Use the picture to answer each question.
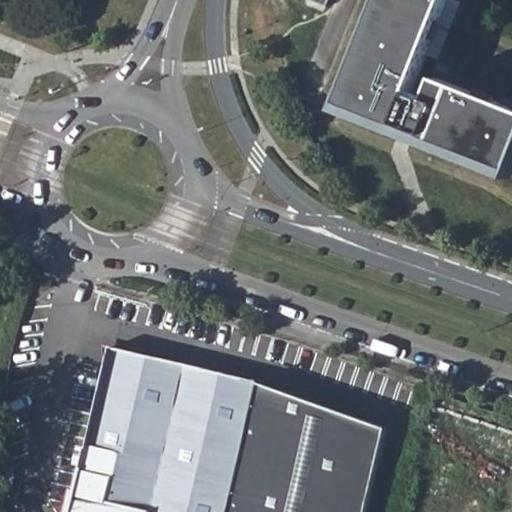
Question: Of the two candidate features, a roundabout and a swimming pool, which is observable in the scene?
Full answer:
This aerial view contains a roundabout.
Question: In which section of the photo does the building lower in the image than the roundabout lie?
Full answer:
The building lower in the image than the roundabout appears toward the bottom of the photo.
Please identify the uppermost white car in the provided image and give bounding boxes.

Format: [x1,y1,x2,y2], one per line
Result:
[116,61,134,82]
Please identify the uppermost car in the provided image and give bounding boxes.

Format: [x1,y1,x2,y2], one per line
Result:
[145,19,160,40]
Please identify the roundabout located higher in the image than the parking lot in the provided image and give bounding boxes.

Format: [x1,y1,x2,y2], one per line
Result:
[32,94,202,266]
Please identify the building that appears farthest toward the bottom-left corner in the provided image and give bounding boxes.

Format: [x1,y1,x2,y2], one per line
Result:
[64,346,382,512]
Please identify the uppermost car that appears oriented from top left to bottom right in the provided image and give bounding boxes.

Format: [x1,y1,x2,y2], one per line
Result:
[192,156,212,178]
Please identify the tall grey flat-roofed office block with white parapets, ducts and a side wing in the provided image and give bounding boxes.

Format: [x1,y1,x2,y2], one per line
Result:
[325,0,512,176]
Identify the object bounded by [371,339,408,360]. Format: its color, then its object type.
white truck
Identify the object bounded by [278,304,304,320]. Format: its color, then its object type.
white vehicle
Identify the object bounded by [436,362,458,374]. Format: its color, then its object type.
white vehicle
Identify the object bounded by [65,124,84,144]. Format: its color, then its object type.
white car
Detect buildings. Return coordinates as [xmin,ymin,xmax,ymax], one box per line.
[305,0,326,11]
[325,0,512,176]
[64,346,382,512]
